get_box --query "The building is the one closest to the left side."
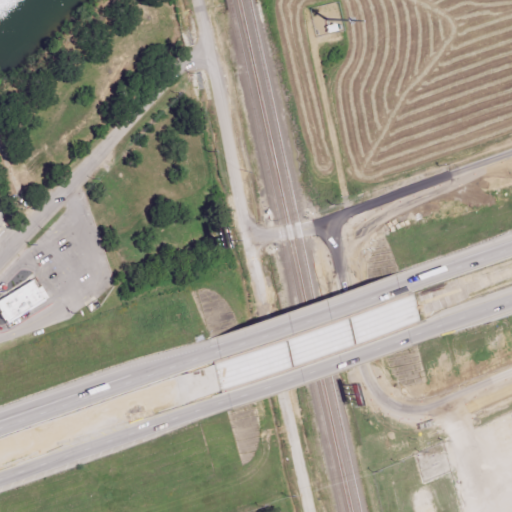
[0,279,49,326]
